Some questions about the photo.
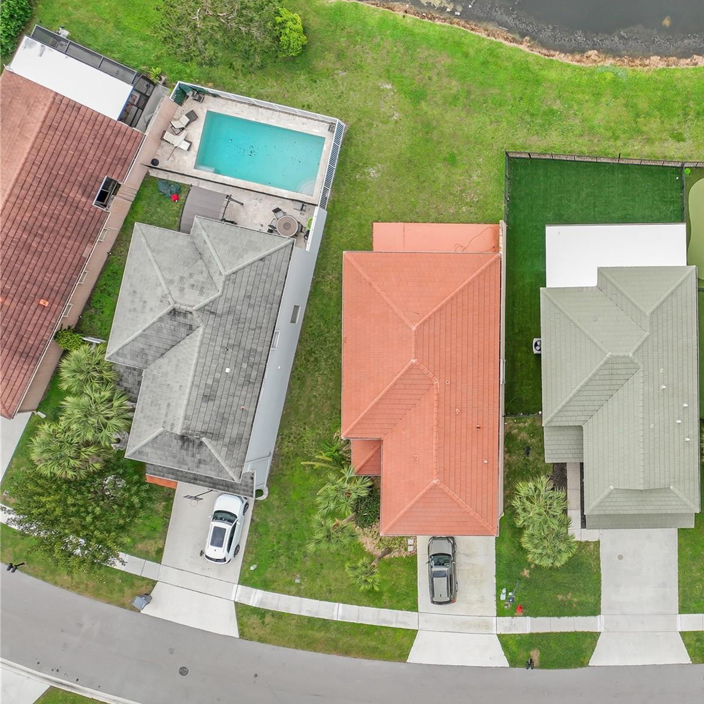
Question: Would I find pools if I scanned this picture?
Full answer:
Yes, the picture does show a pool.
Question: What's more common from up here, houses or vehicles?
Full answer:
The larger group is the houses, while the vehicles are less common.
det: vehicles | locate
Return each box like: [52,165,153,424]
[425,536,458,606]
[203,493,247,564]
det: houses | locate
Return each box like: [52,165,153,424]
[0,34,158,420]
[339,249,507,537]
[540,223,702,529]
[104,215,318,499]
